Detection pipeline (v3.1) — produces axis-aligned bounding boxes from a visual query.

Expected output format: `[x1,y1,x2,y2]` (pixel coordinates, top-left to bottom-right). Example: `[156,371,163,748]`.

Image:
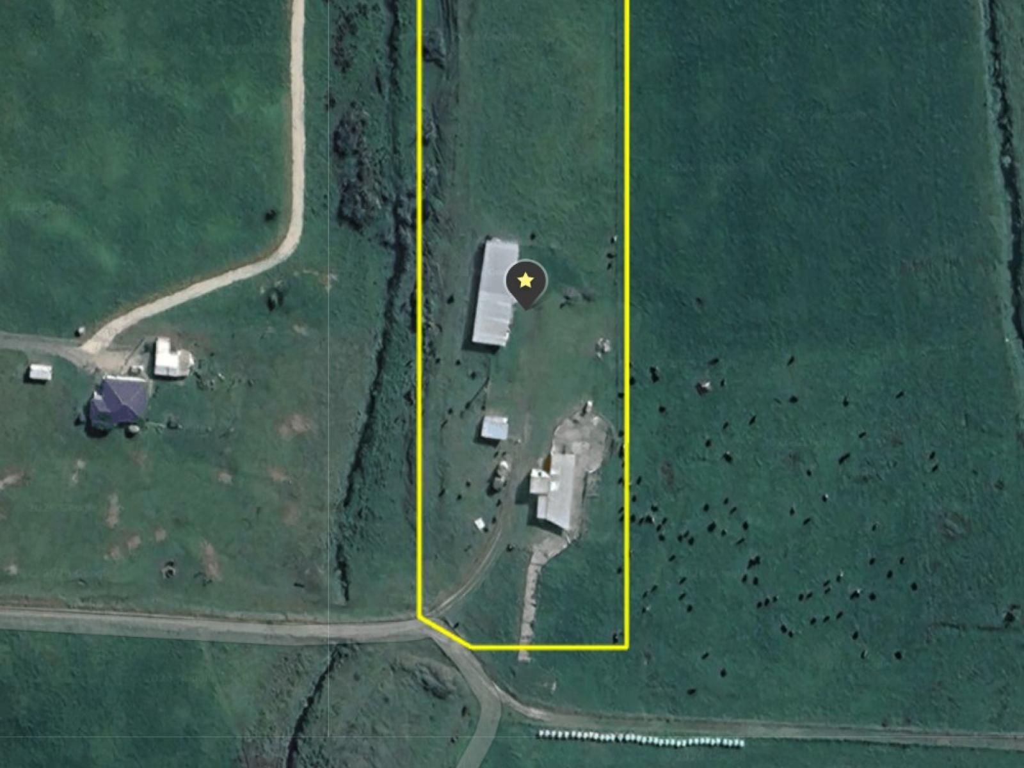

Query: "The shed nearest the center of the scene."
[481,416,508,440]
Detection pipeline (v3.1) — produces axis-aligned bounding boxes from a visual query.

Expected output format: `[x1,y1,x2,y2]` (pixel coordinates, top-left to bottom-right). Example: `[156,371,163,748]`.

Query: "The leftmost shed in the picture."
[28,364,51,380]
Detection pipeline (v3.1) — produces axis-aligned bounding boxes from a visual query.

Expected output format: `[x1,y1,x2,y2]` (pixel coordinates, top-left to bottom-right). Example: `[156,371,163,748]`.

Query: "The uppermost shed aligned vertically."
[472,240,519,346]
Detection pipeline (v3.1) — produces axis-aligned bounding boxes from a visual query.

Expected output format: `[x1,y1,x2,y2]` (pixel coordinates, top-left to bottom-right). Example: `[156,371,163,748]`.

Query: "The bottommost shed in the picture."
[530,454,576,530]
